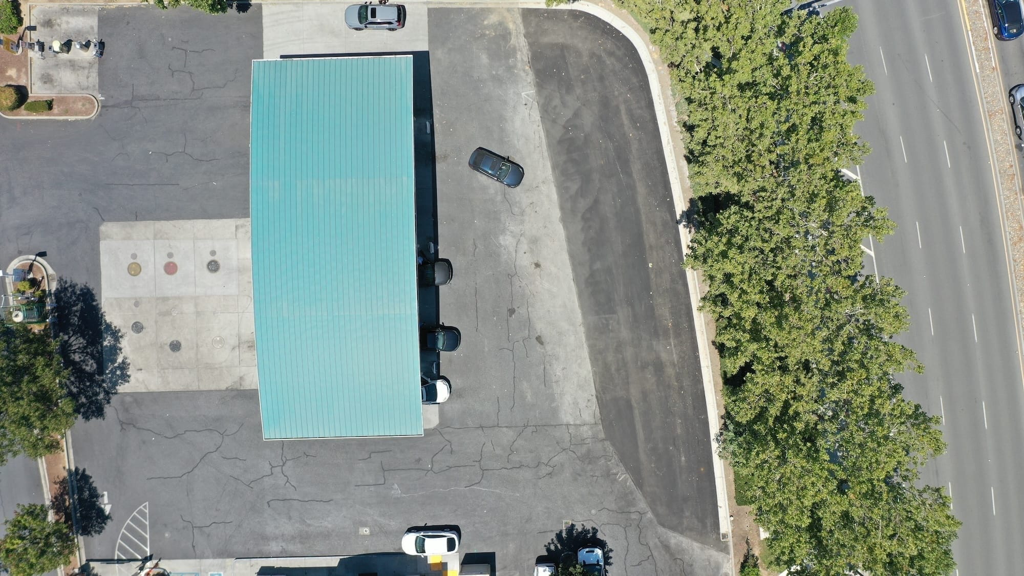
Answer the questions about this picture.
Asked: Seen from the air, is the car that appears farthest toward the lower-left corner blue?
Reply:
No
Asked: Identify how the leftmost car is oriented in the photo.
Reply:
from side to side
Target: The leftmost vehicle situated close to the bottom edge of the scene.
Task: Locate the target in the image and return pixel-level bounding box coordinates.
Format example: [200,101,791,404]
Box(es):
[402,529,460,557]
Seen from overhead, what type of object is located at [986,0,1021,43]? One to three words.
car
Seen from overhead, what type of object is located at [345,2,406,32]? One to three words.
car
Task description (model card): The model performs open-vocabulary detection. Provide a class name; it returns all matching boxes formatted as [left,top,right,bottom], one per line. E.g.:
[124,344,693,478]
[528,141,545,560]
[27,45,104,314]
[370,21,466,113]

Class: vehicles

[417,260,452,286]
[419,327,461,354]
[579,546,605,576]
[1011,87,1024,143]
[986,0,1021,43]
[466,147,525,186]
[345,2,406,32]
[402,529,460,557]
[533,562,557,576]
[421,372,451,406]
